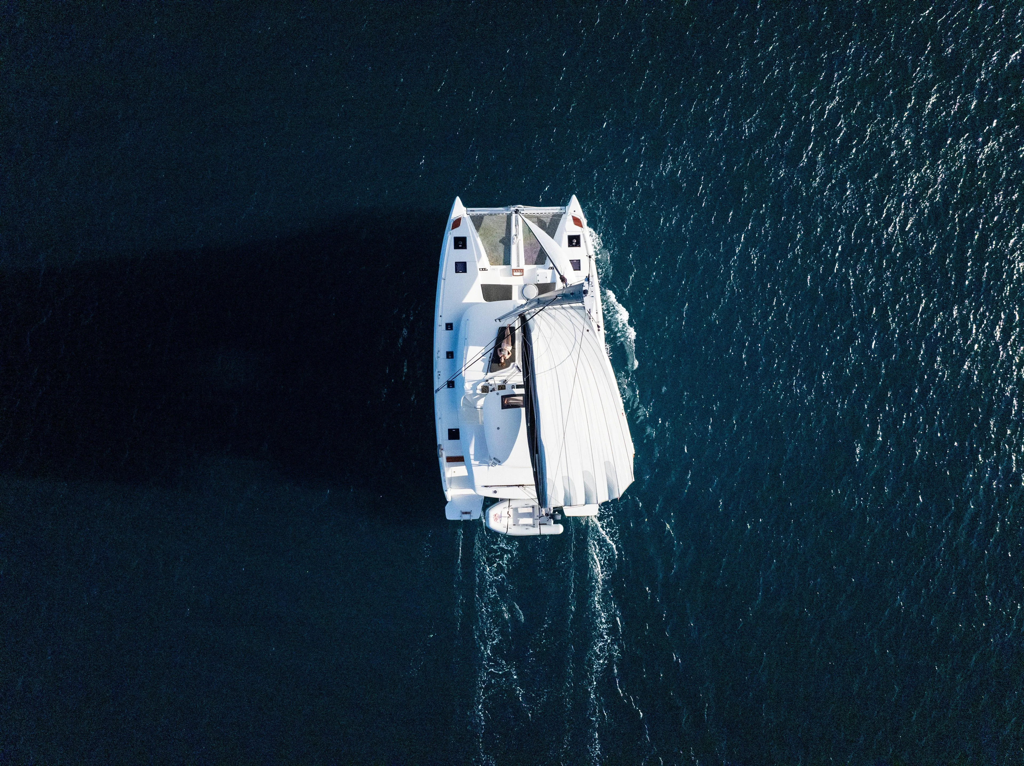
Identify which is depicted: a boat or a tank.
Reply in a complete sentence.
Of the two, only a boat appears.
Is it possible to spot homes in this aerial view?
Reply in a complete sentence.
No, no home can be seen from above.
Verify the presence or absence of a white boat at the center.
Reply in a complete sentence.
Yes, there is a white boat at the center.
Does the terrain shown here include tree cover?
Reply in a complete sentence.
No, the picture contains no tree cover.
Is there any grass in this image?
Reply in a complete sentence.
No, there is no grass in the image.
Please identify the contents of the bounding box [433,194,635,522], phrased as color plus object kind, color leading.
white boat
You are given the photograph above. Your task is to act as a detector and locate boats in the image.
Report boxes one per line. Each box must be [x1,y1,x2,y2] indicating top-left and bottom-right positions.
[485,498,564,536]
[433,194,635,522]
